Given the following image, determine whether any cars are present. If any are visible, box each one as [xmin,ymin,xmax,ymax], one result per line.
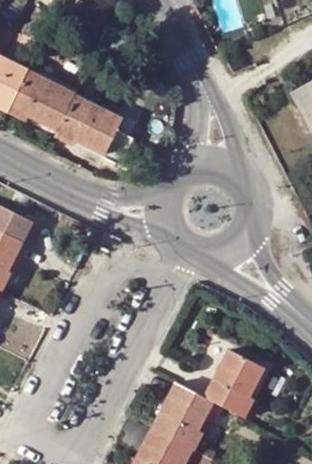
[70,406,84,424]
[70,354,84,374]
[92,319,107,338]
[60,378,74,396]
[24,375,38,394]
[18,446,40,462]
[132,290,144,308]
[50,402,64,422]
[55,321,68,340]
[66,294,78,312]
[109,334,122,353]
[294,226,306,244]
[119,312,131,329]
